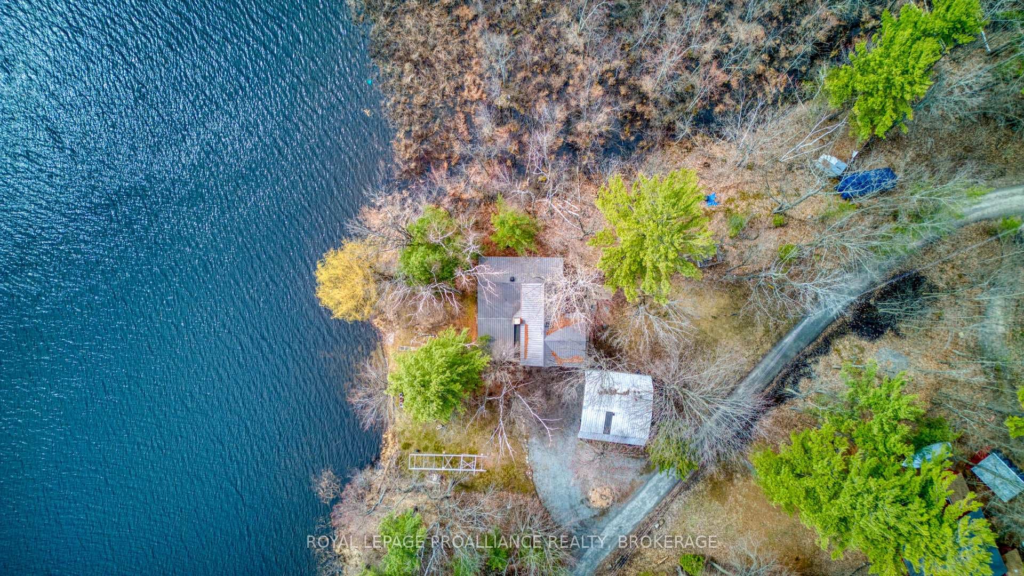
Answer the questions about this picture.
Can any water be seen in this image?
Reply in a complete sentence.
Yes, there's water in this view.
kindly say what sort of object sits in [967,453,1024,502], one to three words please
shed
